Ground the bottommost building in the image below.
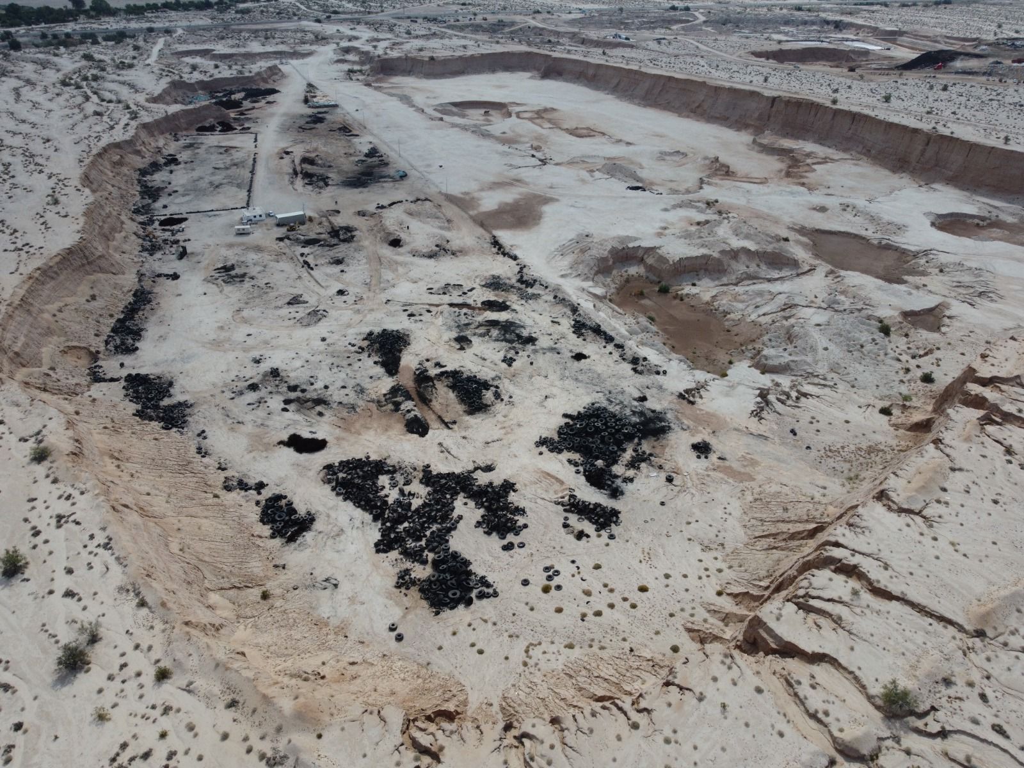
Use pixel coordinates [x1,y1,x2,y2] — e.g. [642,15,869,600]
[239,208,265,224]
